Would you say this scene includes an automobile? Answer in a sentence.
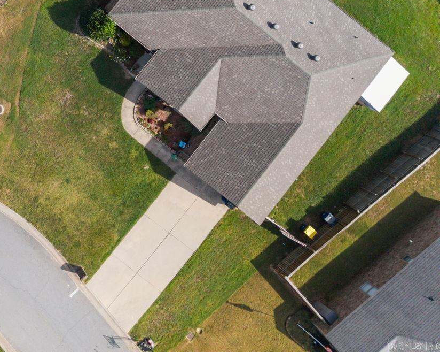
No, this view has no automobile in it.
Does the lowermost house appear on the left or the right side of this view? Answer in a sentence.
You can find the lowermost house on the right side of the picture.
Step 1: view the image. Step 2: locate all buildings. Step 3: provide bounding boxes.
[312,209,440,352]
[108,0,394,226]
